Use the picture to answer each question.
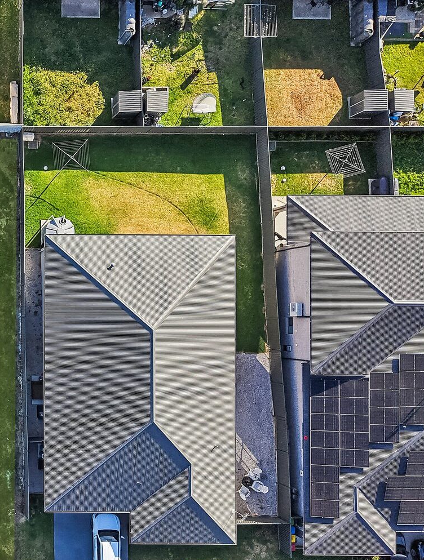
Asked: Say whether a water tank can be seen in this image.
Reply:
Yes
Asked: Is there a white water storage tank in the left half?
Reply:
Yes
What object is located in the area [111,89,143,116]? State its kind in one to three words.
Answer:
shed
